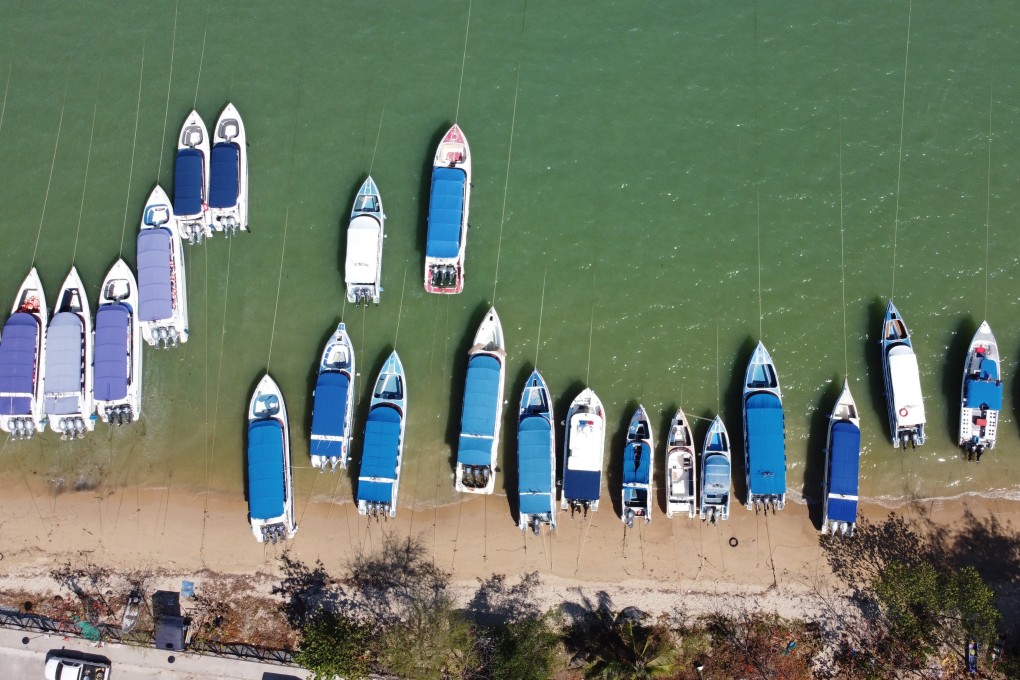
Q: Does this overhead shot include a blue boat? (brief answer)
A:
Yes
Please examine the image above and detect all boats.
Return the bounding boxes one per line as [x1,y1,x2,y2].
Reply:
[424,122,474,296]
[248,374,298,545]
[738,340,790,514]
[696,415,732,528]
[172,110,214,242]
[344,175,387,308]
[876,302,929,455]
[623,405,653,530]
[955,321,1002,455]
[560,388,605,516]
[137,184,191,347]
[358,349,406,522]
[95,258,146,425]
[665,407,698,517]
[518,368,554,535]
[43,266,98,436]
[819,378,863,542]
[456,306,506,494]
[307,323,360,473]
[0,266,54,437]
[207,102,254,235]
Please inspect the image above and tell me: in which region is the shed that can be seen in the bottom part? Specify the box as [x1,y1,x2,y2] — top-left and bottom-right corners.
[154,609,186,649]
